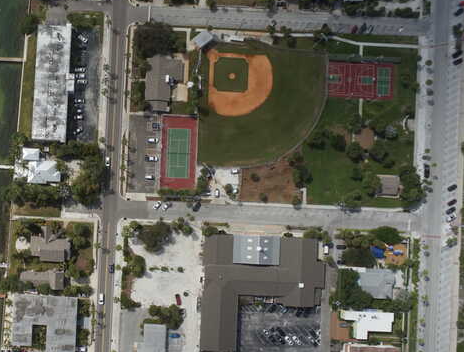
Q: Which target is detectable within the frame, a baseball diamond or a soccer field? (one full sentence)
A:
This aerial view contains a baseball diamond.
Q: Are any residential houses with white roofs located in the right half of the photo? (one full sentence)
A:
Yes, the scene does show a residential house with a white roof in the right half of the photo.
